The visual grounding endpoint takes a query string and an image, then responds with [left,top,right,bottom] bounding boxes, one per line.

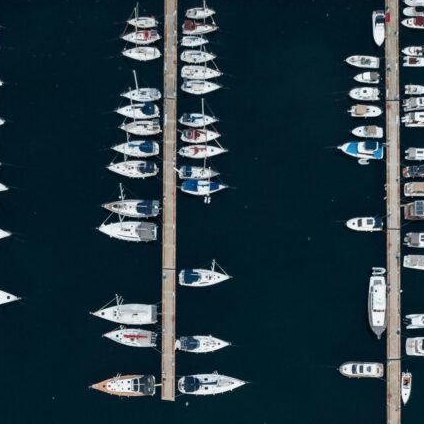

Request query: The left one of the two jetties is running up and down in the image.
[162,0,178,401]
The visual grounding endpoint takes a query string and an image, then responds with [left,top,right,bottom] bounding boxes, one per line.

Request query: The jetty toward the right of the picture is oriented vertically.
[384,0,400,424]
